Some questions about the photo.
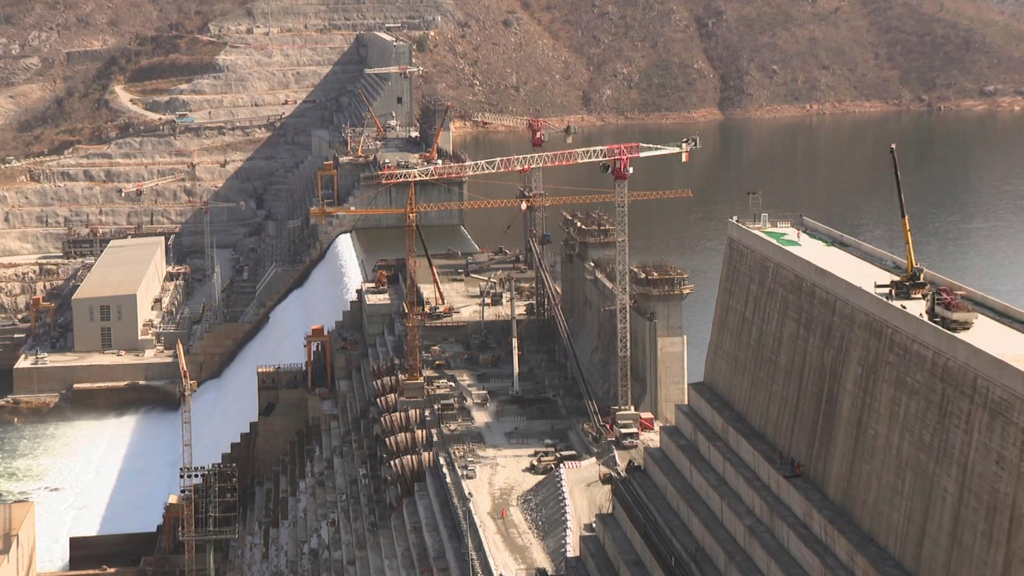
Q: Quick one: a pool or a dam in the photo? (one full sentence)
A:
This aerial view contains a dam.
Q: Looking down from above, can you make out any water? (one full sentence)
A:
Yes, water can be seen from above here.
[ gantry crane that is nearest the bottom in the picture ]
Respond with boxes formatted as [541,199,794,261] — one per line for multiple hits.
[151,507,188,576]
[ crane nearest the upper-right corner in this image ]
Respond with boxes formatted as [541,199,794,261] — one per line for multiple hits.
[878,141,942,302]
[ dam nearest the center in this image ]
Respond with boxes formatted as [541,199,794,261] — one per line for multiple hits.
[353,252,532,352]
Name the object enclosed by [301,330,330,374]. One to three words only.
container crane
